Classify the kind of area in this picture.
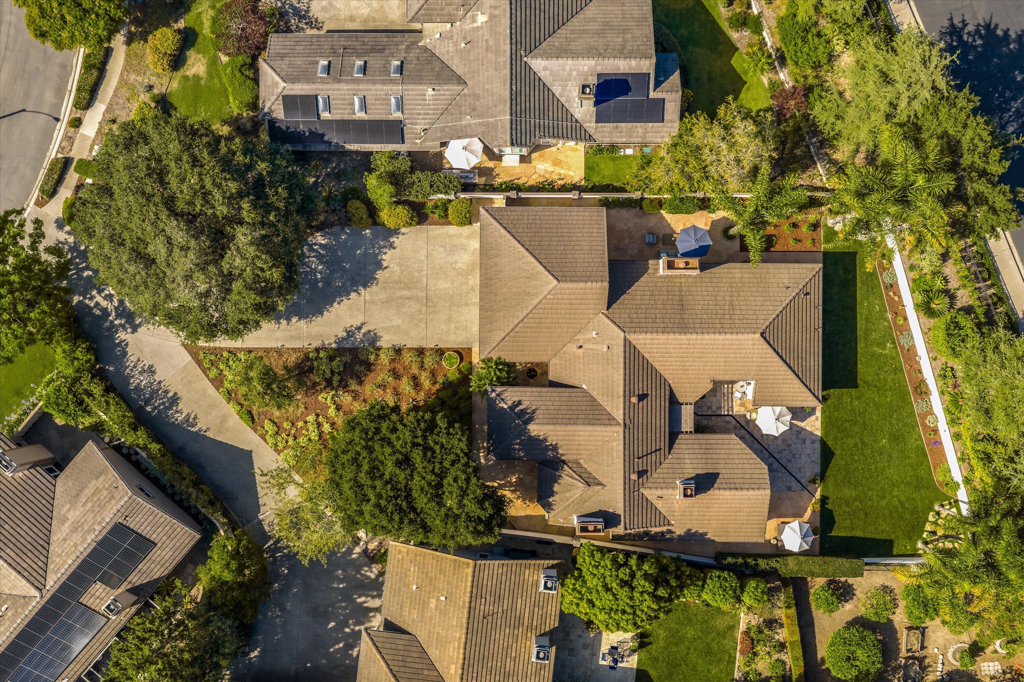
residential area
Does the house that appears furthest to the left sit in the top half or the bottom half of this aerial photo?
bottom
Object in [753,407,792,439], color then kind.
white umbrella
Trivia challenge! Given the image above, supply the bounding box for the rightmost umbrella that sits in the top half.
[675,224,710,258]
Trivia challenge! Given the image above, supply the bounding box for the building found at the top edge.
[258,0,683,164]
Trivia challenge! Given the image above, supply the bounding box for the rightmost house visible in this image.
[478,206,824,544]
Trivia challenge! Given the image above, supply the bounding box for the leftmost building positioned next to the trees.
[0,410,207,682]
